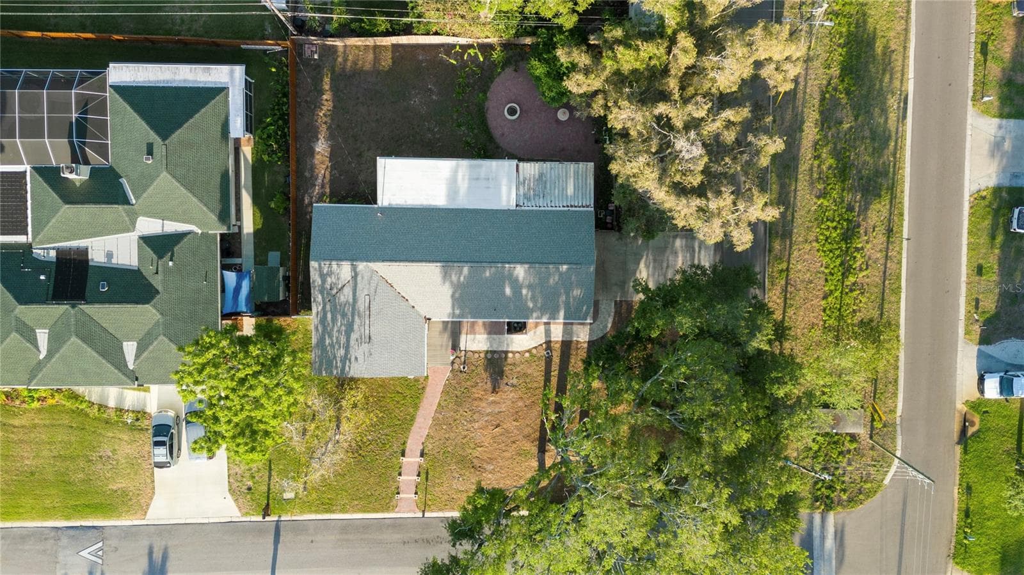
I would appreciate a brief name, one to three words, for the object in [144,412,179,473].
car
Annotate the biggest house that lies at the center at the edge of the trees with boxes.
[309,155,597,379]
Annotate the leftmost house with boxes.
[0,63,257,389]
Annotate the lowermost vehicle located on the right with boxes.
[980,372,1024,403]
